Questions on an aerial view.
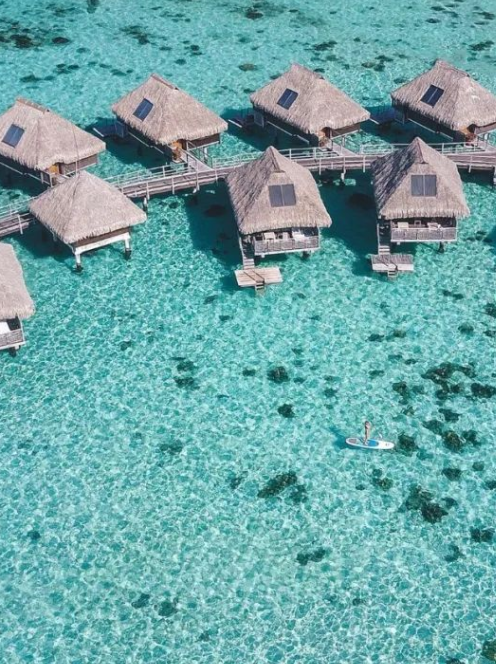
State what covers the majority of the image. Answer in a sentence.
The scene is dominated by water.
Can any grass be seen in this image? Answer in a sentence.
No, the scene doesn't show any grass.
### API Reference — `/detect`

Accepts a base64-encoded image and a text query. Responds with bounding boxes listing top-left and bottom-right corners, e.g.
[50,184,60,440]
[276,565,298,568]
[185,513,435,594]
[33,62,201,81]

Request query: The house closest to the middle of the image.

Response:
[227,147,333,291]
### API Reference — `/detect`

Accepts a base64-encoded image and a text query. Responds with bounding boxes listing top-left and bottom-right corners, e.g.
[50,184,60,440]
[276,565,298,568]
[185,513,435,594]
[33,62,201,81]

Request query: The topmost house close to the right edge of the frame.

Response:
[369,61,496,152]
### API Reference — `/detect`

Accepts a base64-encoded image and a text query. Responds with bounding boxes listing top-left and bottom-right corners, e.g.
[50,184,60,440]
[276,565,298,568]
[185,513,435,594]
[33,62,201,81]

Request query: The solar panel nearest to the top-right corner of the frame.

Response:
[420,85,445,107]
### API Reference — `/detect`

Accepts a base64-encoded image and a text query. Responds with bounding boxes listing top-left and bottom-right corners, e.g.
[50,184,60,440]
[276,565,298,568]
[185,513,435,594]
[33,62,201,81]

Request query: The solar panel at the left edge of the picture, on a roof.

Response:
[1,123,25,148]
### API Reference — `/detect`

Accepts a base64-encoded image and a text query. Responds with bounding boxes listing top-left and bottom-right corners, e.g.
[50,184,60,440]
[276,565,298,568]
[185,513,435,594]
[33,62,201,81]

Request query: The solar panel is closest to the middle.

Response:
[269,186,297,209]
